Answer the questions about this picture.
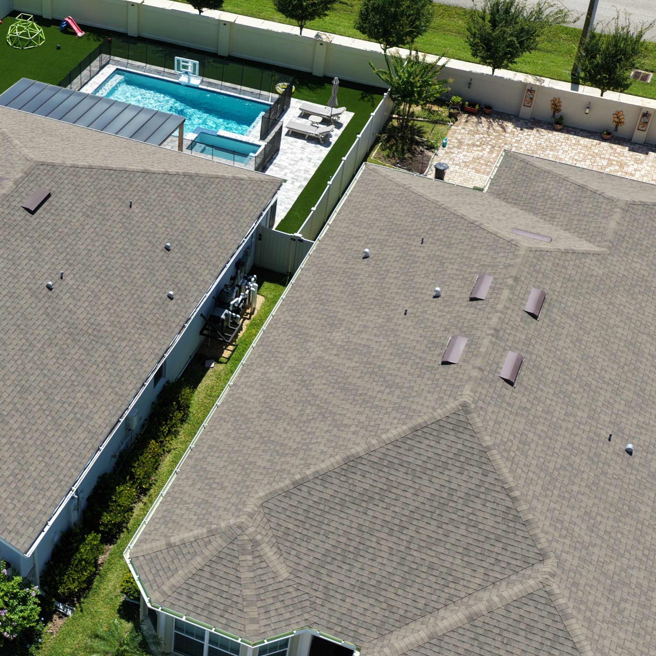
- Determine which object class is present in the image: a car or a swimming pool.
swimming pool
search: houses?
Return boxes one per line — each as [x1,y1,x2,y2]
[124,150,656,656]
[0,110,286,626]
